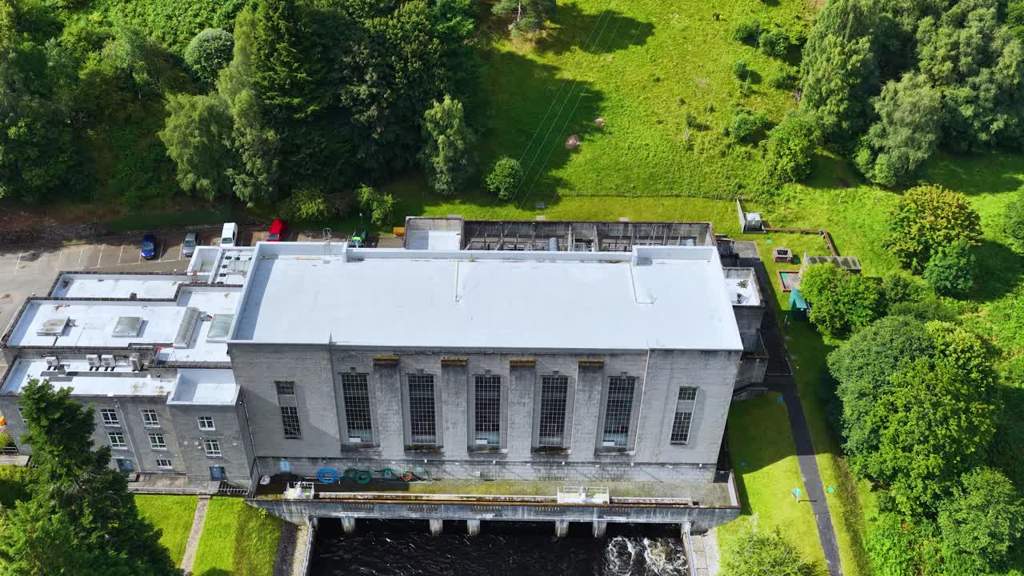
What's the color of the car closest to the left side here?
blue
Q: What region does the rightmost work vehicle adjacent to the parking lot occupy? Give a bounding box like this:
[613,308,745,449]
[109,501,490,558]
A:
[348,215,372,250]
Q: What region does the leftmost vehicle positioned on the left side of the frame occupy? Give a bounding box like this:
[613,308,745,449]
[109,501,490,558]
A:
[136,232,156,259]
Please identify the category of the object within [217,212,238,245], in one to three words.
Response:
vehicle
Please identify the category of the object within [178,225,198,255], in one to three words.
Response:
car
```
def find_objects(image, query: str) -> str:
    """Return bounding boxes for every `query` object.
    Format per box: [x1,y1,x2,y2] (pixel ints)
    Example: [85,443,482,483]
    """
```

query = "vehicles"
[217,212,238,245]
[266,212,285,241]
[136,232,156,259]
[178,225,198,255]
[348,215,372,250]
